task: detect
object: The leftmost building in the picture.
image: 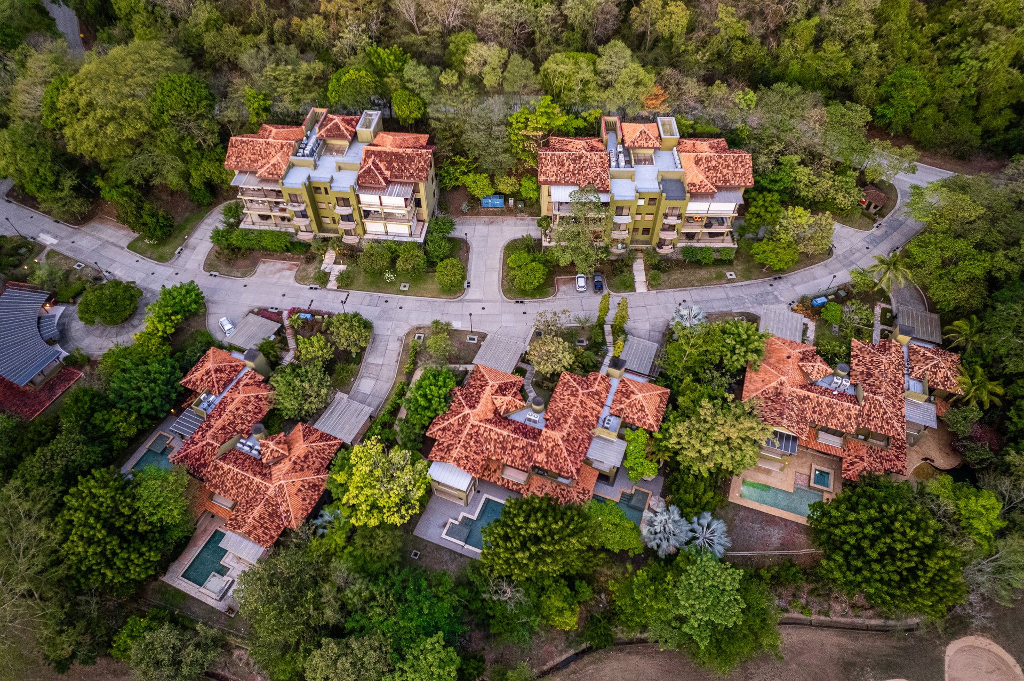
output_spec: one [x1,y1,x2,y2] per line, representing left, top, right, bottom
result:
[0,280,84,409]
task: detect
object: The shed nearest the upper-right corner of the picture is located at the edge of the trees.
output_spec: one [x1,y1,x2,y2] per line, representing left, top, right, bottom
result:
[862,185,893,215]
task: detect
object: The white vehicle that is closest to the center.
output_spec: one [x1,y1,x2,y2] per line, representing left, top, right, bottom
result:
[575,273,588,291]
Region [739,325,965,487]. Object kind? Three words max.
house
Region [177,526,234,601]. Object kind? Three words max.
swimming pool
